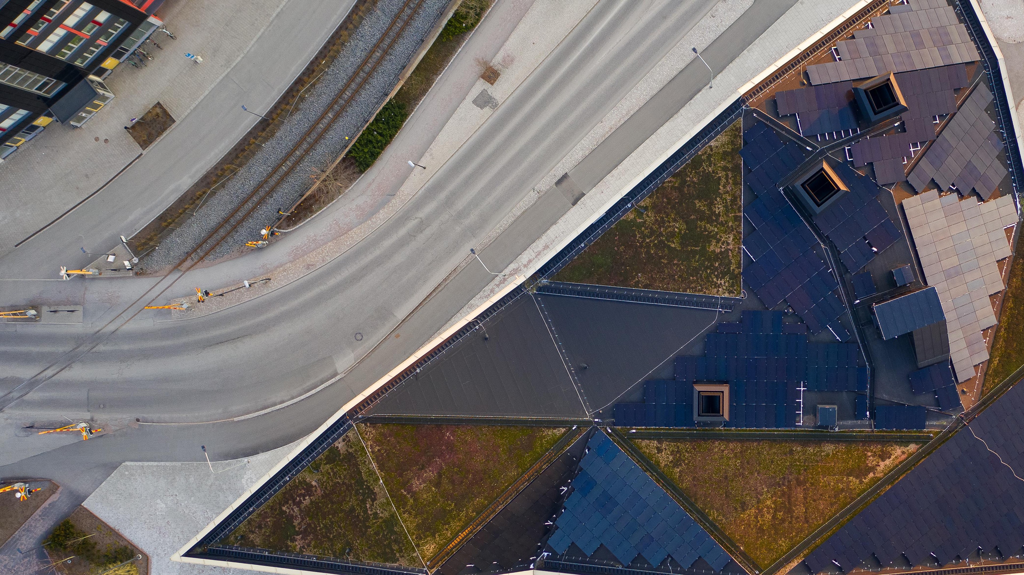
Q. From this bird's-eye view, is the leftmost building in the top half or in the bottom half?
top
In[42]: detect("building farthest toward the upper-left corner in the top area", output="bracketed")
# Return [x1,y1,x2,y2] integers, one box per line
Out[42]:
[0,0,169,160]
